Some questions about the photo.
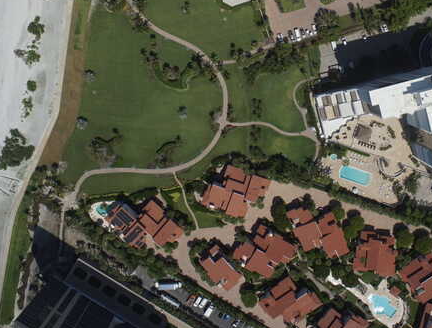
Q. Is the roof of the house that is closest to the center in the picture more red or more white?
red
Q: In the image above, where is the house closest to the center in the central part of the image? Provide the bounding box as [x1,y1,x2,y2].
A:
[202,163,271,217]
